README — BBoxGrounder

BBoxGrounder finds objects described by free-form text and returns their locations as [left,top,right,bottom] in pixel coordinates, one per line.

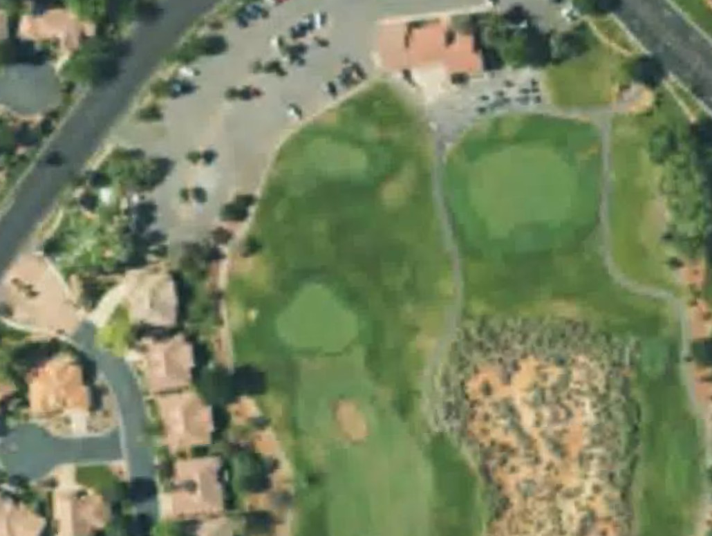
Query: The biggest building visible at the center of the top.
[377,19,485,80]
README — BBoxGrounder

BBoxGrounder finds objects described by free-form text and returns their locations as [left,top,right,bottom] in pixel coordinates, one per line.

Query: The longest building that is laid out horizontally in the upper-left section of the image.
[15,10,97,50]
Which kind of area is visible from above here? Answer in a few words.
golf course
